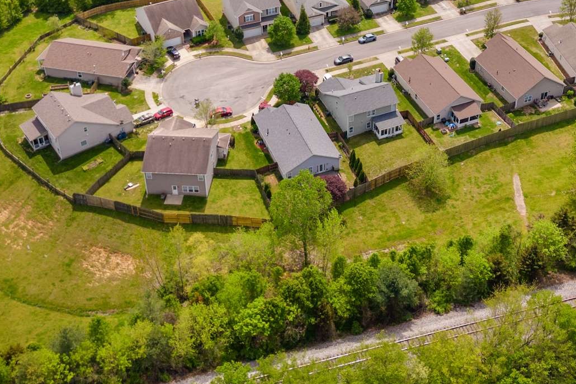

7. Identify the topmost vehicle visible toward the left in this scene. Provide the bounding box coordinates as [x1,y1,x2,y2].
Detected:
[167,43,179,57]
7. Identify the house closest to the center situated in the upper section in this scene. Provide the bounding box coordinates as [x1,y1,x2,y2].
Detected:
[249,93,340,182]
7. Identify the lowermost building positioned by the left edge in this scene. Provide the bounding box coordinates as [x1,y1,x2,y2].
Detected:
[26,79,135,162]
